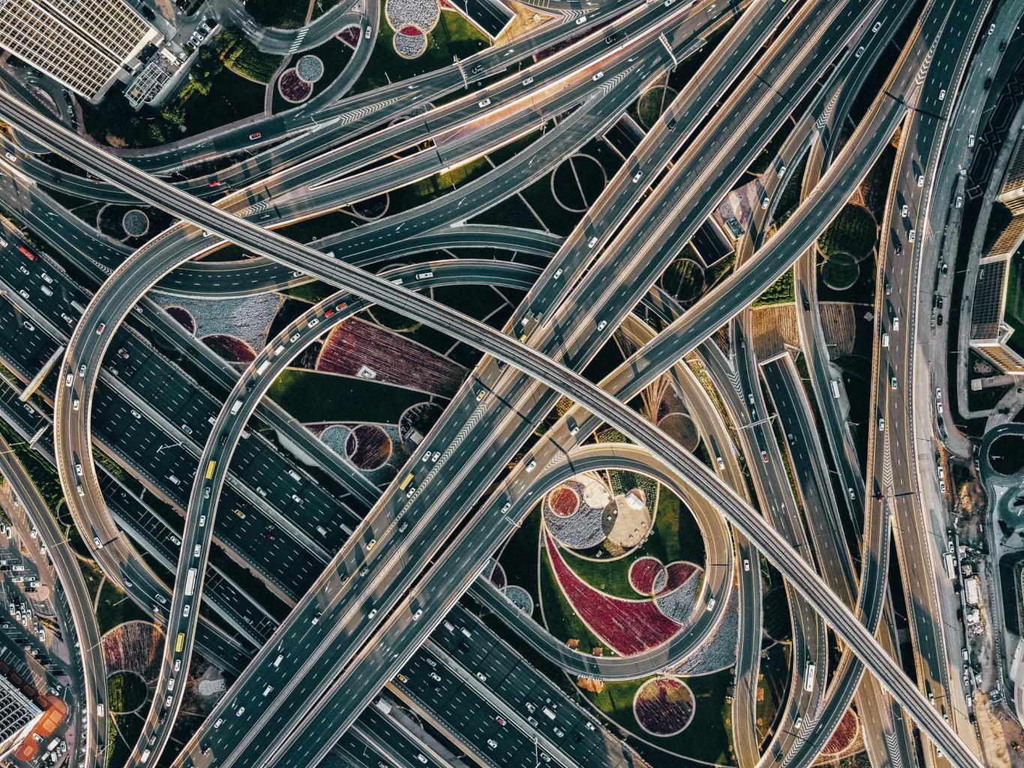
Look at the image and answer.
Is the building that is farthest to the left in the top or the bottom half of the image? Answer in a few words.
bottom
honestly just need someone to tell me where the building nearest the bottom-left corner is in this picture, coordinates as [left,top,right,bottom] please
[0,660,58,756]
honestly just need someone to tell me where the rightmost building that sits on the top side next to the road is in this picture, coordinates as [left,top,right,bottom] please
[958,127,1024,376]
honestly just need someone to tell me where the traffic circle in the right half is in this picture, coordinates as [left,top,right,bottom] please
[977,423,1024,485]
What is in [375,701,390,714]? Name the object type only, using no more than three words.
vehicle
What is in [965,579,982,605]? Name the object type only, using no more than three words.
building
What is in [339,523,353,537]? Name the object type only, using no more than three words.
vehicle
